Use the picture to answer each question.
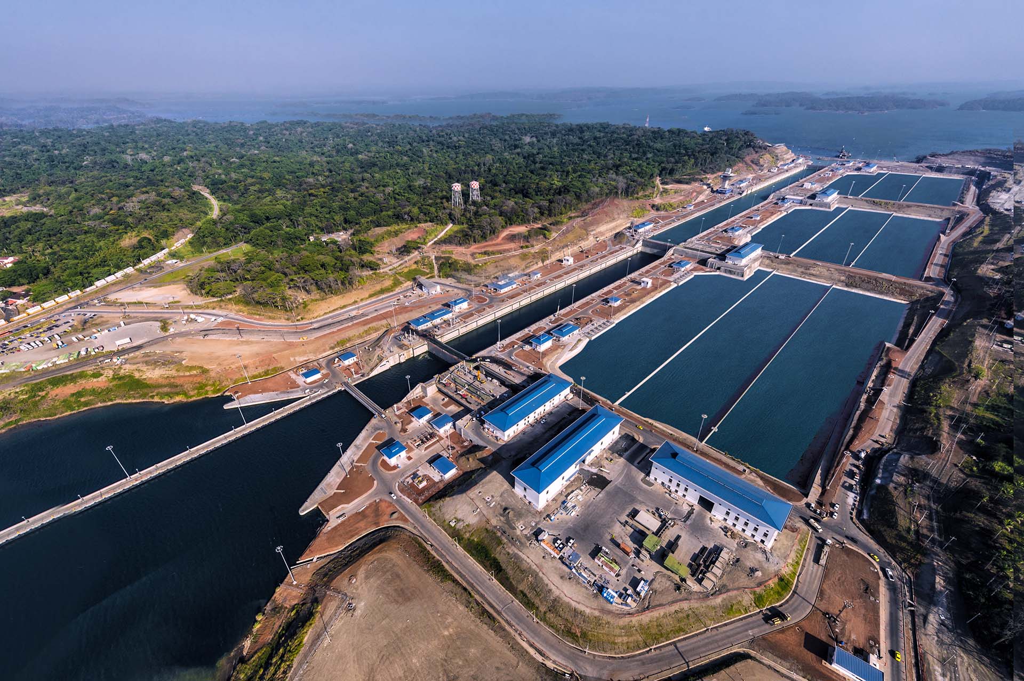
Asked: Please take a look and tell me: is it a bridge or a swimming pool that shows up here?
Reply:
bridge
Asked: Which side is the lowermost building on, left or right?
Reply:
right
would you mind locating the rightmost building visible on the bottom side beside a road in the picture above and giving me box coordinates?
[821,646,890,681]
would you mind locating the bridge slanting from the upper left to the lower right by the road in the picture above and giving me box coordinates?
[340,379,386,417]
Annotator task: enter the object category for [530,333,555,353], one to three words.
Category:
building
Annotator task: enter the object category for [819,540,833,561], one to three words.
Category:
vehicle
